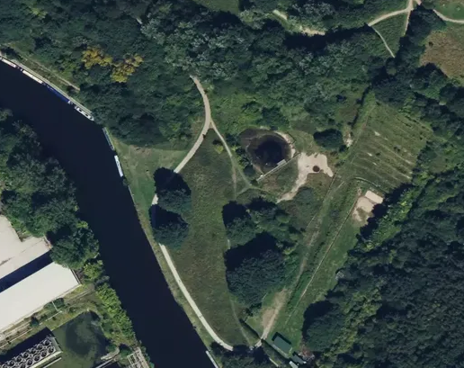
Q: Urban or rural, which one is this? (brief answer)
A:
rural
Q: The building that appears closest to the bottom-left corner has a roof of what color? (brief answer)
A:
white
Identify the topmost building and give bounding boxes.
[0,265,81,331]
